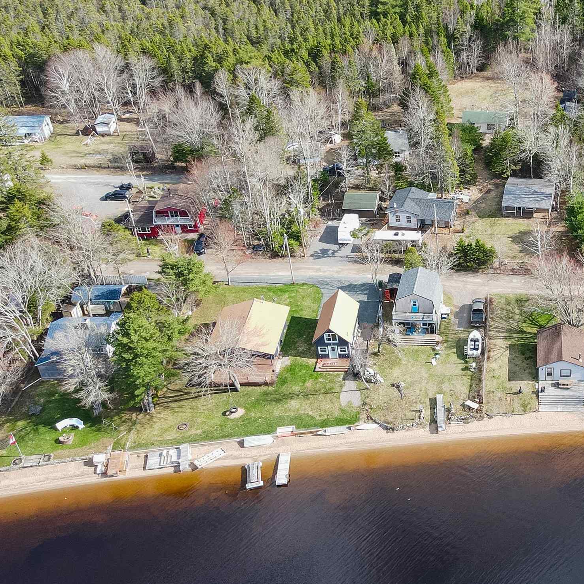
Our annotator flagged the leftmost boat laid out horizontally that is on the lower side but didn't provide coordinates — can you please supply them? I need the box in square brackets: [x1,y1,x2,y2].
[243,434,281,447]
